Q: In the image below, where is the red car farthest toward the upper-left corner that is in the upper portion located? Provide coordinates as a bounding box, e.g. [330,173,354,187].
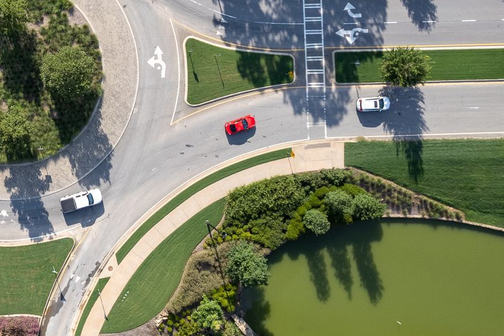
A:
[223,115,256,135]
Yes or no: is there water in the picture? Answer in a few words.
Yes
